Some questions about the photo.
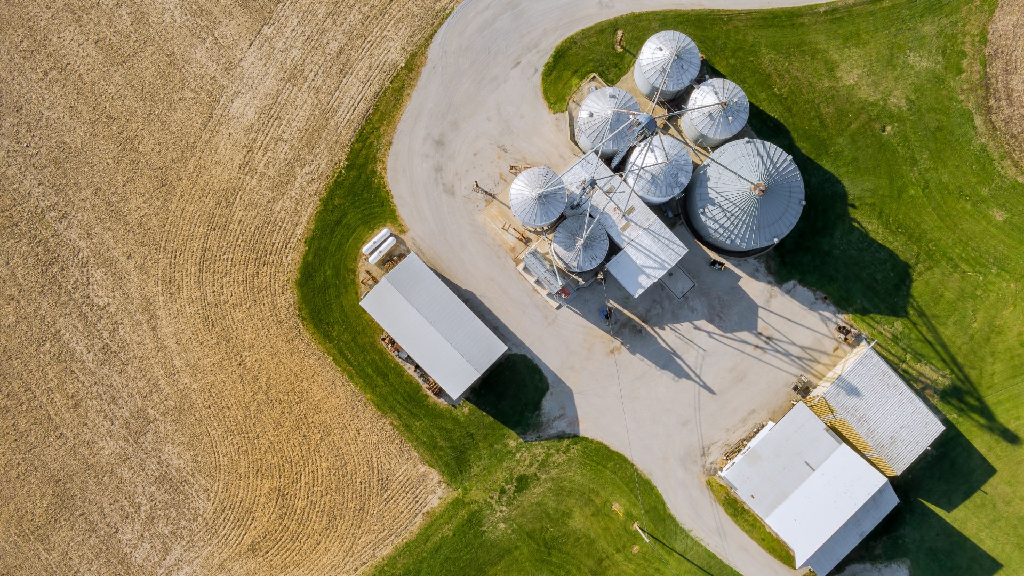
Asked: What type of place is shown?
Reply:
industrial area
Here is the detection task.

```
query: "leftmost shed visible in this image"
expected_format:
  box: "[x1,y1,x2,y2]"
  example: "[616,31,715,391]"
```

[359,251,508,401]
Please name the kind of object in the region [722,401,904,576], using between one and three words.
barn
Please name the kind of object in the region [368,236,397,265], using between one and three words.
storage tank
